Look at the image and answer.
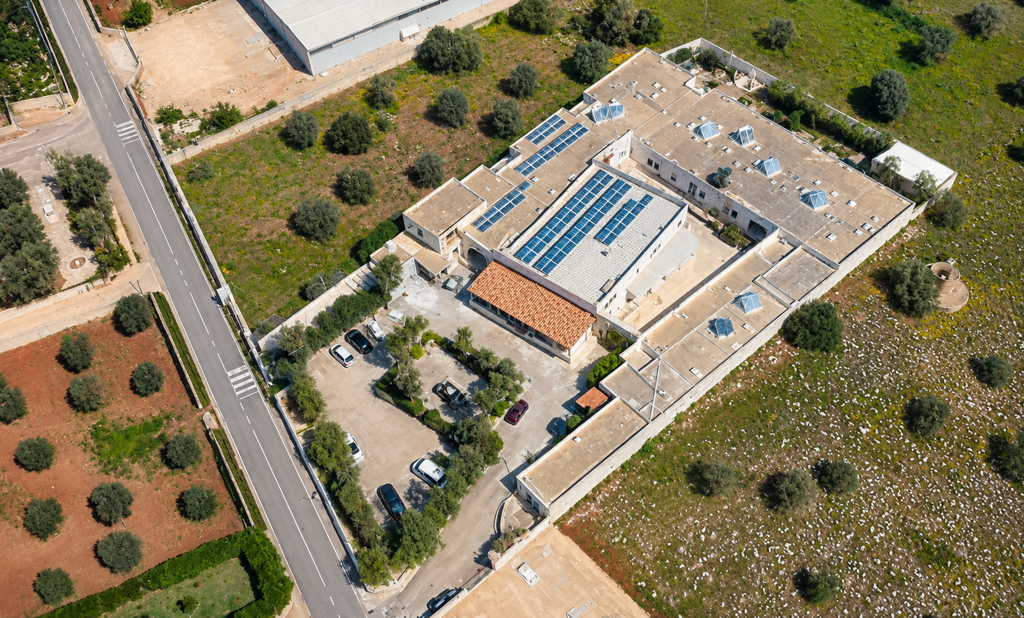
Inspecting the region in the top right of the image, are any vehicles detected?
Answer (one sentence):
No, I can find no vehicle in the top right of the image.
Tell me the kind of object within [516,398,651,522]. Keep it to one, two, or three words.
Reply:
building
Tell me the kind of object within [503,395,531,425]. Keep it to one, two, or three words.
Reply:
car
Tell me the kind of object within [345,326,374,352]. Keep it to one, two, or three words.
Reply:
car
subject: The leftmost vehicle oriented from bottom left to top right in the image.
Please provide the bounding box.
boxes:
[426,581,465,611]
